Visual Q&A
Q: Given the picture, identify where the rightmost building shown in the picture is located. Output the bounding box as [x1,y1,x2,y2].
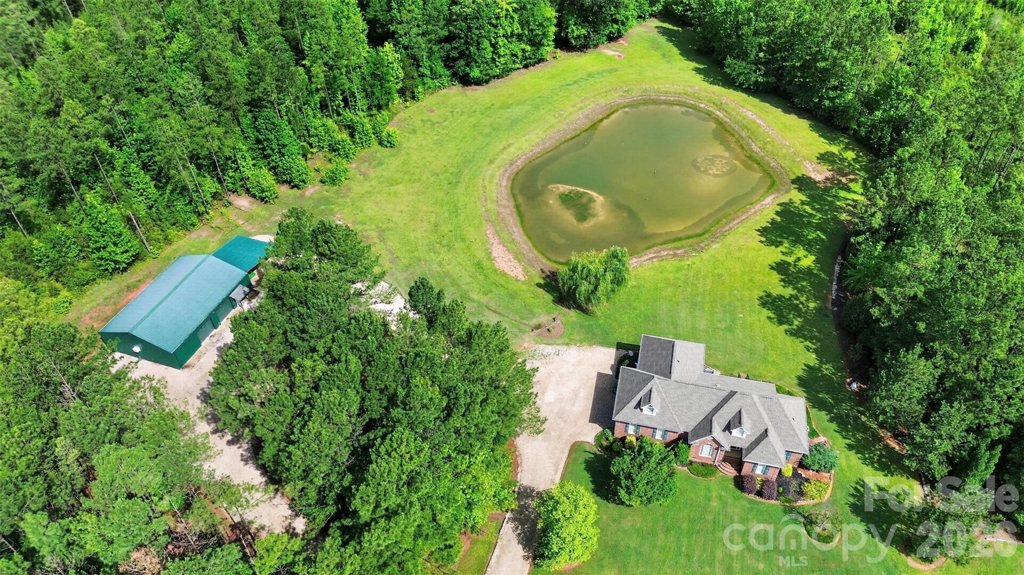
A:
[613,335,809,482]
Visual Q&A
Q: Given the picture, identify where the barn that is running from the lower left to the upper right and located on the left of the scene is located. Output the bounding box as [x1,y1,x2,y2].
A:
[98,232,272,369]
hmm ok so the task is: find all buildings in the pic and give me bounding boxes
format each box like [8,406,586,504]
[98,232,272,369]
[613,335,809,482]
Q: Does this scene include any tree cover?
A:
Yes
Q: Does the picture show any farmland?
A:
No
